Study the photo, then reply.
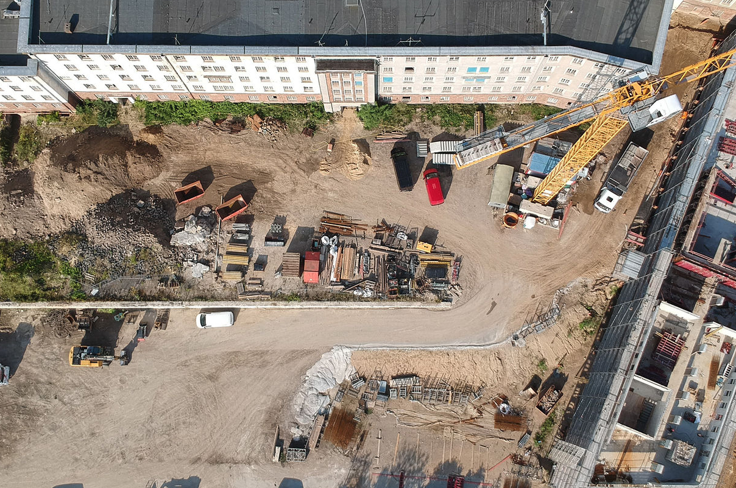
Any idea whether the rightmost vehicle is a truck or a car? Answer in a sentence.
Looking closely, the rightmost vehicle is a truck.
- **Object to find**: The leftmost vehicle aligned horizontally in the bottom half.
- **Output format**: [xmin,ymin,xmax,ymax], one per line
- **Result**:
[67,345,134,366]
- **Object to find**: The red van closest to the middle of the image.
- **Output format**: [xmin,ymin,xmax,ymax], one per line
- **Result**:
[420,170,449,209]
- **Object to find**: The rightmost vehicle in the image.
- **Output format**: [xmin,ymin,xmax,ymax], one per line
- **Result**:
[597,142,646,213]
